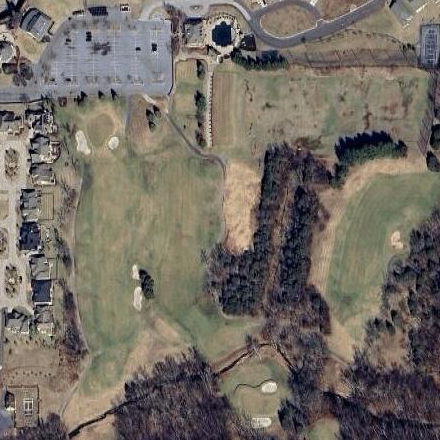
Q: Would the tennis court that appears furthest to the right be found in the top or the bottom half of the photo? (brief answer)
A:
top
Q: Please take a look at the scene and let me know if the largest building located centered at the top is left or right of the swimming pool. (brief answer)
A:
on the left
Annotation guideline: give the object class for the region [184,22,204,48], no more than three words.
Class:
building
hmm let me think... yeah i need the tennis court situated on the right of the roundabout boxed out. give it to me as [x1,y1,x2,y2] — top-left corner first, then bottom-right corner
[420,24,440,66]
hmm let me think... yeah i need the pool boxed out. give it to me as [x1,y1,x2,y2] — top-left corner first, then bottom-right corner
[204,12,243,57]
